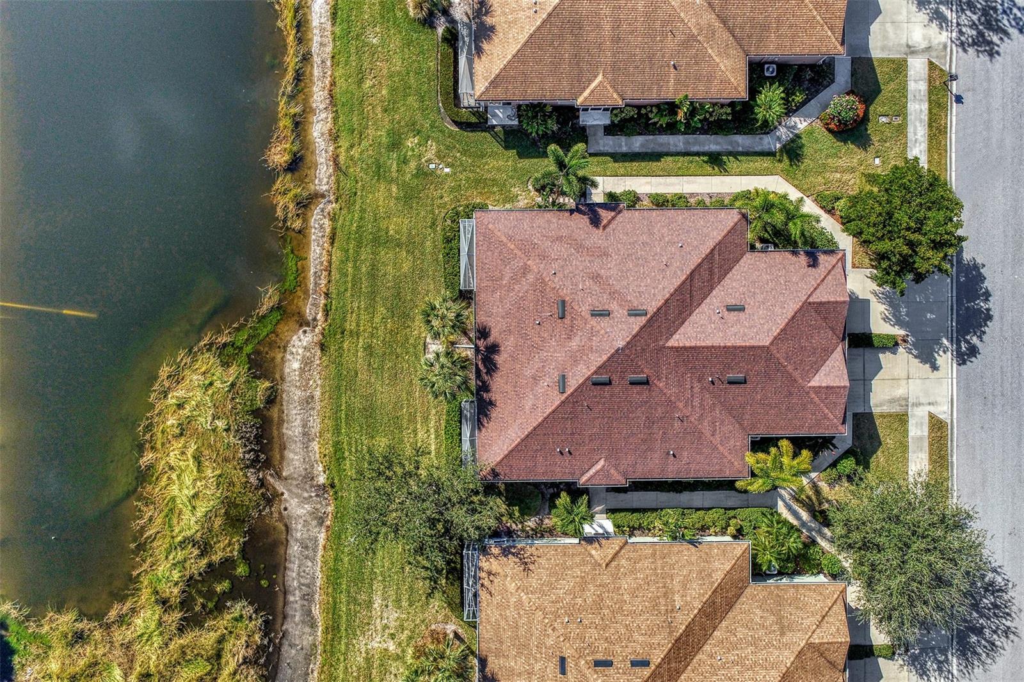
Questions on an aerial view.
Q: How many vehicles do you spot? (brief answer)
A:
0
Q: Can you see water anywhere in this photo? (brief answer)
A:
Yes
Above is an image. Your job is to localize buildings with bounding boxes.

[459,0,848,119]
[463,528,852,682]
[459,201,850,487]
